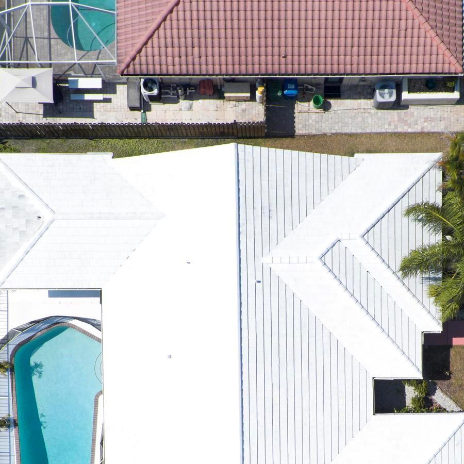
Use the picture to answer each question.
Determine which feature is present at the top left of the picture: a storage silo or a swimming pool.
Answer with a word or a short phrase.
swimming pool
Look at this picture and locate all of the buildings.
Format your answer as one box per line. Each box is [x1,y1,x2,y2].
[114,0,464,86]
[0,141,464,464]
